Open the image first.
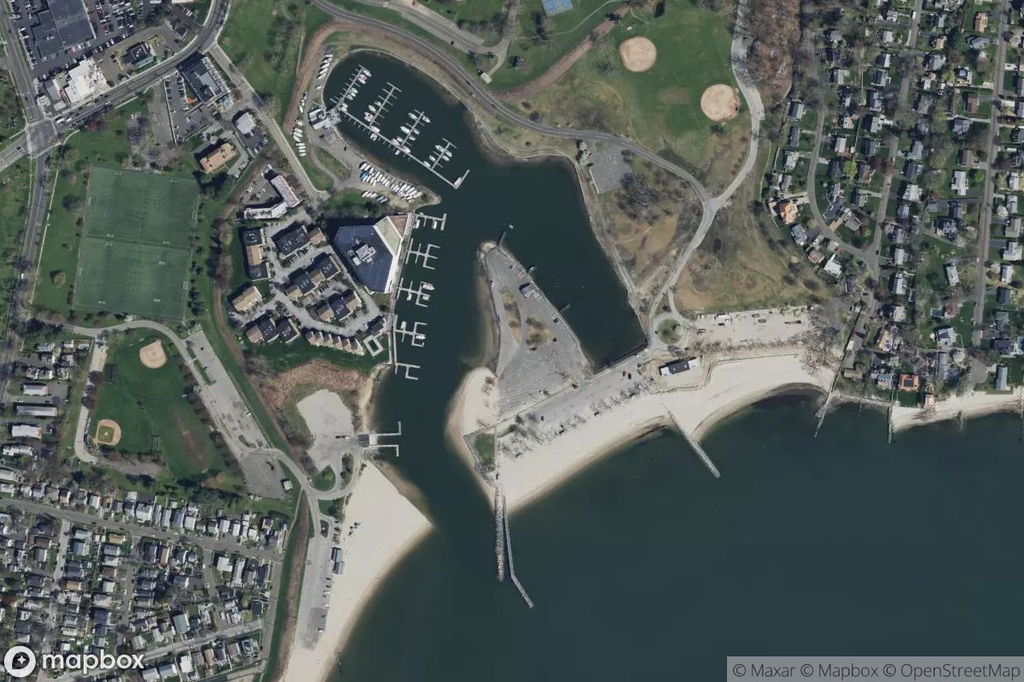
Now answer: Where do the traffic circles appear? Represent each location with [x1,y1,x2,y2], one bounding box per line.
[653,315,685,347]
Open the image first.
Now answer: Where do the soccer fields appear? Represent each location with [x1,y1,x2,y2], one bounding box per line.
[74,234,191,321]
[85,167,199,248]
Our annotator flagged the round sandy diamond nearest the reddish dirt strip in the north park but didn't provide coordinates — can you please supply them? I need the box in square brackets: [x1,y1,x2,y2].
[619,36,656,72]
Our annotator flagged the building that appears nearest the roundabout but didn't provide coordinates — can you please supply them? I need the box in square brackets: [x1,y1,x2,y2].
[660,358,701,375]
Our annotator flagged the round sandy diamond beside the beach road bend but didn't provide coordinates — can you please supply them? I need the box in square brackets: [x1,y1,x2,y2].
[701,83,740,121]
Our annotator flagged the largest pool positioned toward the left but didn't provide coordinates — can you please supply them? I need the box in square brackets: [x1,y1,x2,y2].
[363,335,384,356]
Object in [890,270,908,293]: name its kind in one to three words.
house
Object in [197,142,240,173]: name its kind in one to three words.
building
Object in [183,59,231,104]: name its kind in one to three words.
building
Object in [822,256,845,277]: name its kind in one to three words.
house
